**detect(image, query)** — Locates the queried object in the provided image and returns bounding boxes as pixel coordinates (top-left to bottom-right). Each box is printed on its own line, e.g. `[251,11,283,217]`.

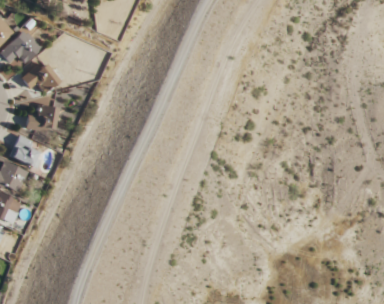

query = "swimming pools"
[19,208,32,221]
[43,149,56,173]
